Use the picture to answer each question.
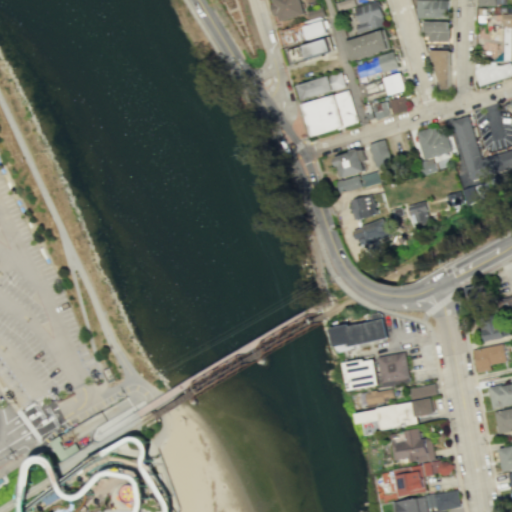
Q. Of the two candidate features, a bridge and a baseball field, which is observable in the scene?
bridge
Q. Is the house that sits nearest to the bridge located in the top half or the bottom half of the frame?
bottom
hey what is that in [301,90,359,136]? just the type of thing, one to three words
building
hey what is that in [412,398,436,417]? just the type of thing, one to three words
house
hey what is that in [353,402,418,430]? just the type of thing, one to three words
house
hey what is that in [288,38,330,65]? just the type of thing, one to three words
building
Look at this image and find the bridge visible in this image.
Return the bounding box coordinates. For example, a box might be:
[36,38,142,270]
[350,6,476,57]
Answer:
[137,301,328,424]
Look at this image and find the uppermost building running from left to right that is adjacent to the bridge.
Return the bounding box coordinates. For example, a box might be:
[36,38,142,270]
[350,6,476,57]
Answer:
[329,319,387,353]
